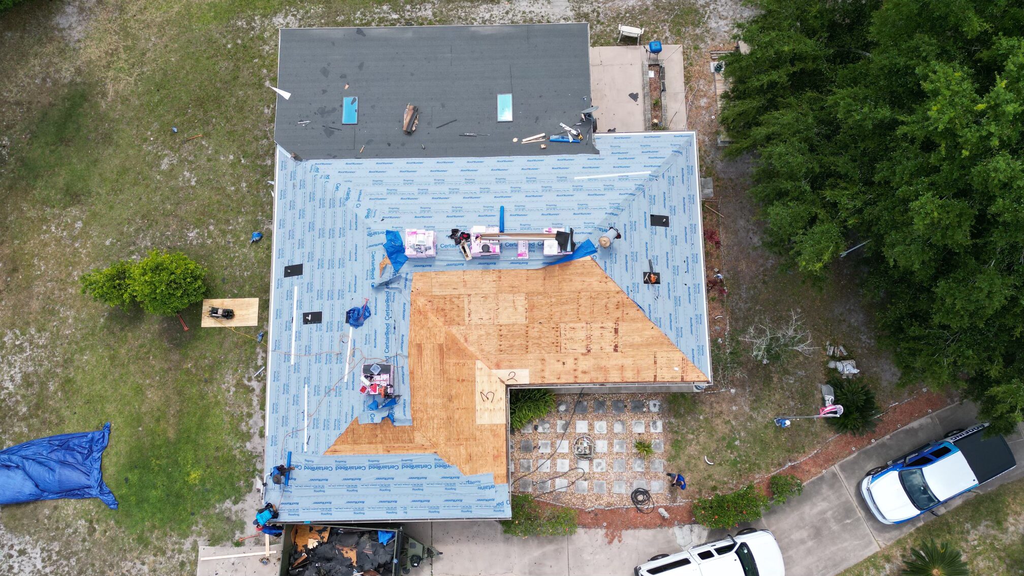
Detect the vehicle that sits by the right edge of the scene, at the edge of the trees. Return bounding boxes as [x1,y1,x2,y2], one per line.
[863,418,1018,524]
